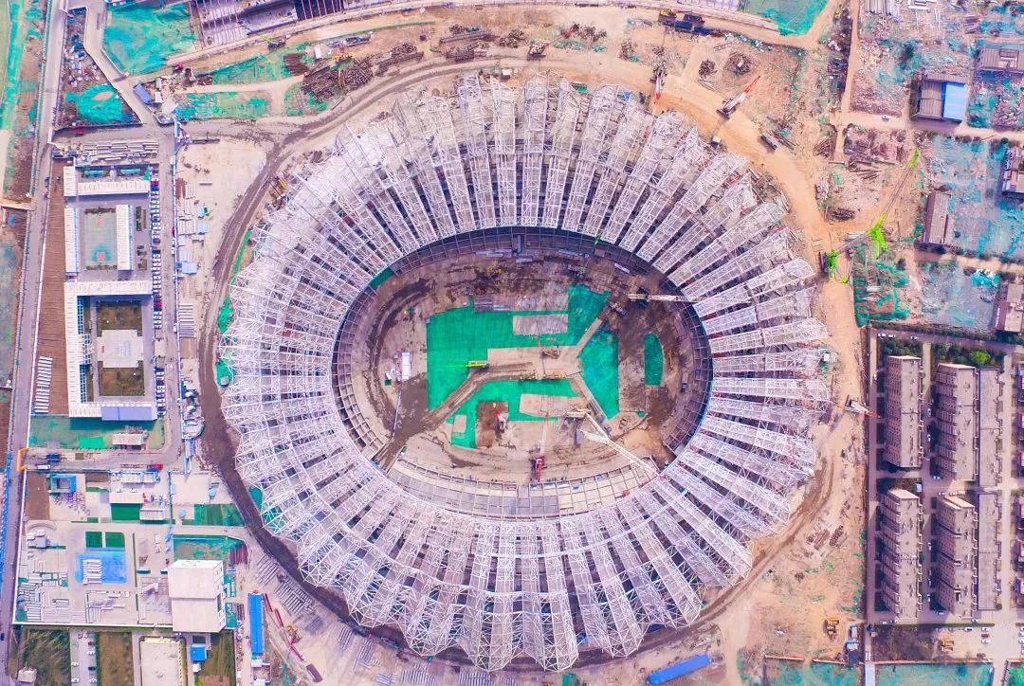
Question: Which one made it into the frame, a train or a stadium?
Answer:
stadium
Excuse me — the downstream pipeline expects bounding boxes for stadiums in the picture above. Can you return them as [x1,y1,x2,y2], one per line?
[220,73,826,671]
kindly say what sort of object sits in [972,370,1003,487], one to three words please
building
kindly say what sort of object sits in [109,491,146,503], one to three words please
building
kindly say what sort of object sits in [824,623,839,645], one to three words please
work vehicle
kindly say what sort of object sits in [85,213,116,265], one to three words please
sports court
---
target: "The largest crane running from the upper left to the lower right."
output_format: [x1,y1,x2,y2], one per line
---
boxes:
[569,407,663,478]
